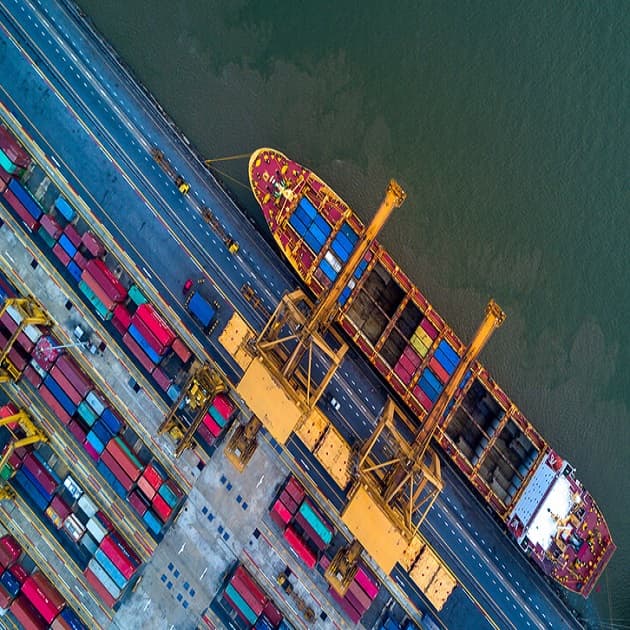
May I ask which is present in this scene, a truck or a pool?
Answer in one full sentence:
This aerial view contains a truck.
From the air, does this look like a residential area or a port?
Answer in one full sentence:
The picture captures a port.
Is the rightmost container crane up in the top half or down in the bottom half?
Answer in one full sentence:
You can find the rightmost container crane in the bottom half.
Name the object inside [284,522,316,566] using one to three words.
shipping container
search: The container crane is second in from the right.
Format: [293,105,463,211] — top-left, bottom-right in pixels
[221,181,406,476]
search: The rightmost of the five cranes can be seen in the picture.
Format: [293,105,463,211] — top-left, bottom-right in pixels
[321,303,507,597]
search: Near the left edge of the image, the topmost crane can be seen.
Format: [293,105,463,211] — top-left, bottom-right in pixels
[0,294,54,389]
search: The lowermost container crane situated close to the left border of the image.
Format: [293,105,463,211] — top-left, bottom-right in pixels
[0,407,46,474]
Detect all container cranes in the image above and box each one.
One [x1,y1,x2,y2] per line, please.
[154,358,233,461]
[0,294,54,389]
[221,181,406,476]
[321,303,507,597]
[0,407,46,474]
